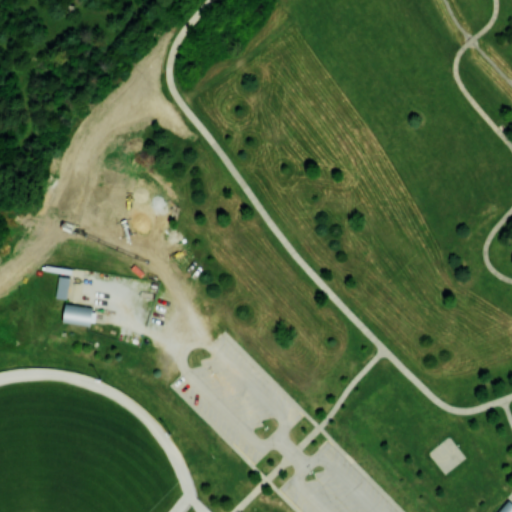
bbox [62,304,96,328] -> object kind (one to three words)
building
